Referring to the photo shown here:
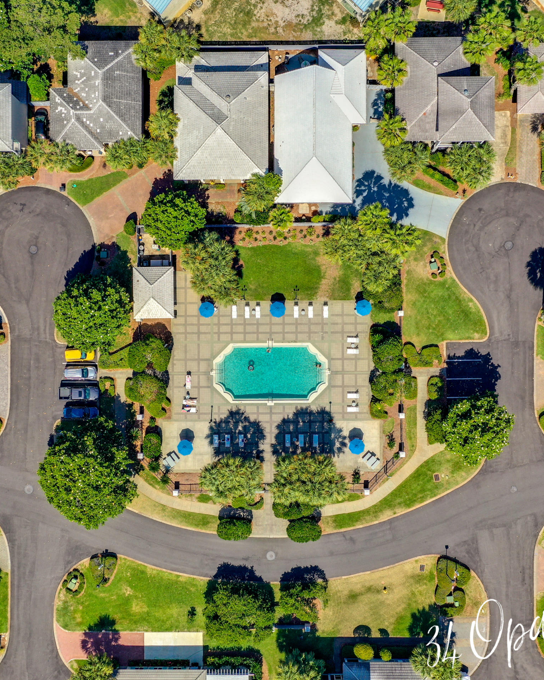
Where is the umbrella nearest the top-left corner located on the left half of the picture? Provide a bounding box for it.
[199,302,215,318]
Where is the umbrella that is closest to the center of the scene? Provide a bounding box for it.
[270,301,286,318]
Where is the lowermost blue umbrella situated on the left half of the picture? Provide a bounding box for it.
[177,439,193,456]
